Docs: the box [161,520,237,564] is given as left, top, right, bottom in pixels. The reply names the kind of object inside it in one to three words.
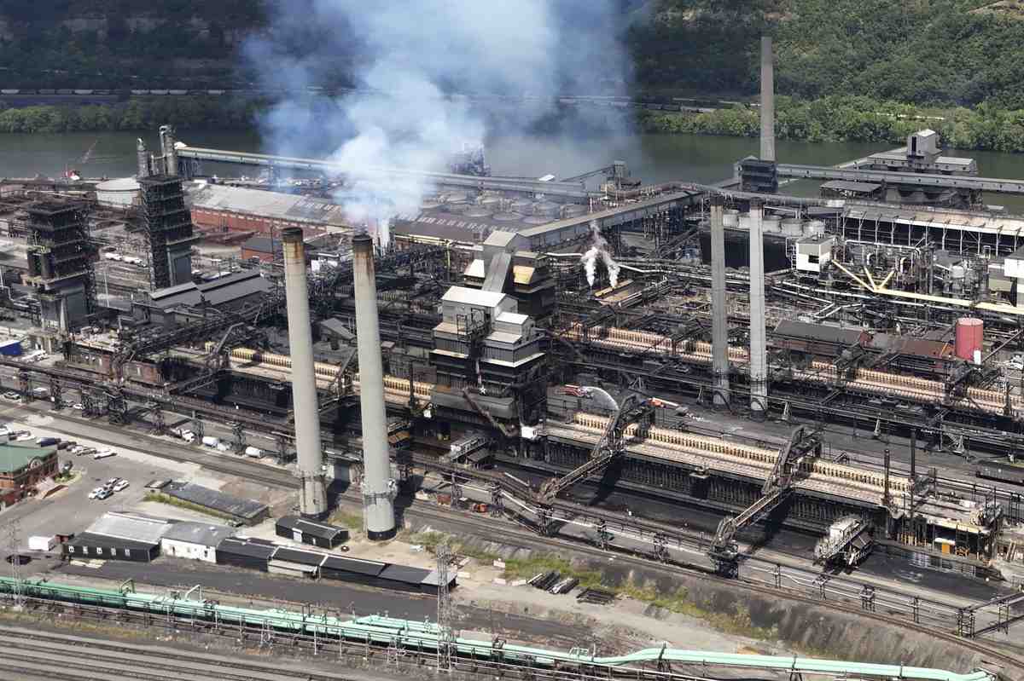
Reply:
shed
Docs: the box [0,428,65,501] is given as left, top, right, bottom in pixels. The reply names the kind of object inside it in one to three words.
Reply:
building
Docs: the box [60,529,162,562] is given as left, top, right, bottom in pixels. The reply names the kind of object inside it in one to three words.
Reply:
shed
